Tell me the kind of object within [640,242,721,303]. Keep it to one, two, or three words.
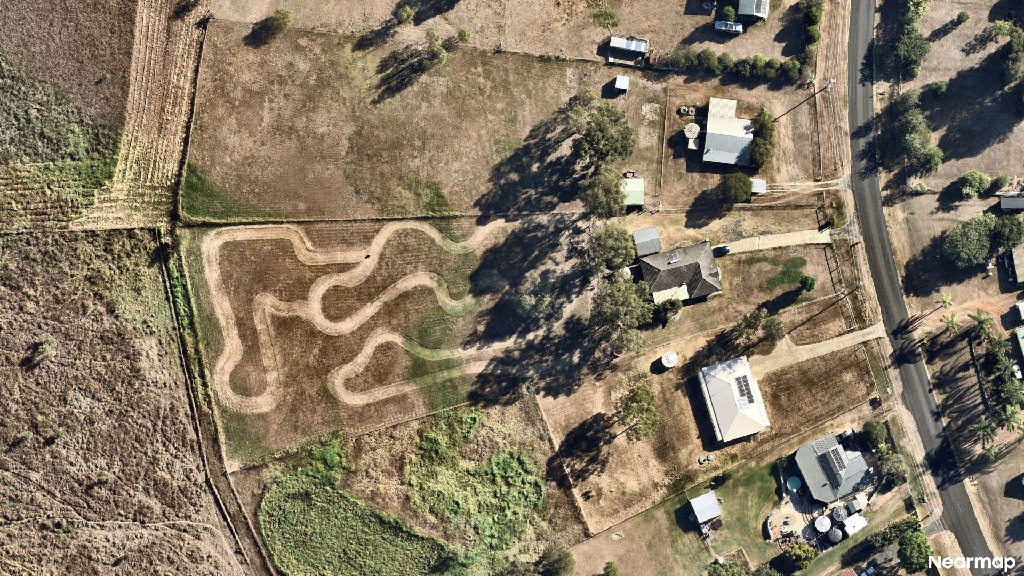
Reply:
house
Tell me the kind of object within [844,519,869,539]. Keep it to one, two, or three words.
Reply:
camper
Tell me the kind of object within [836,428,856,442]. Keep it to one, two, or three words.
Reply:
vehicle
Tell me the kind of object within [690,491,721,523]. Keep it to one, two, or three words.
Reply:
shed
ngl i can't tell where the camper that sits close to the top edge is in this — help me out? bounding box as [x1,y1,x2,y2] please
[715,21,743,34]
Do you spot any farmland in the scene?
Yes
